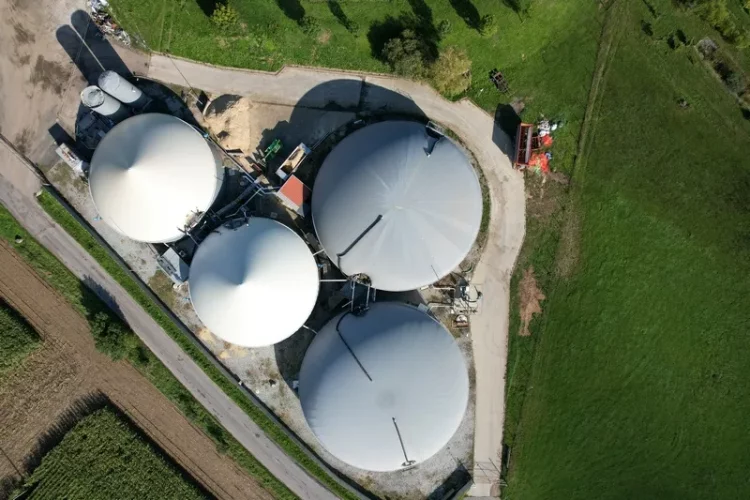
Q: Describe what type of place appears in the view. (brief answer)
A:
industrial area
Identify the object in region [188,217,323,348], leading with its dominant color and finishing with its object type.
white storage tank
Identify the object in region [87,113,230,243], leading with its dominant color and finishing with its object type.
white storage tank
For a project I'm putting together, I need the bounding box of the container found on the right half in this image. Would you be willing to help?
[442,474,475,500]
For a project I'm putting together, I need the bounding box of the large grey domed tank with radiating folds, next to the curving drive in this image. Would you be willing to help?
[311,121,482,294]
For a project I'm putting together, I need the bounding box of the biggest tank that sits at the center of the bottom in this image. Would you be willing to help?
[298,299,470,474]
